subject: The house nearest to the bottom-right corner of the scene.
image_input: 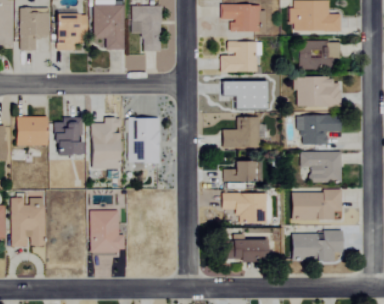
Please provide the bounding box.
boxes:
[292,230,344,262]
